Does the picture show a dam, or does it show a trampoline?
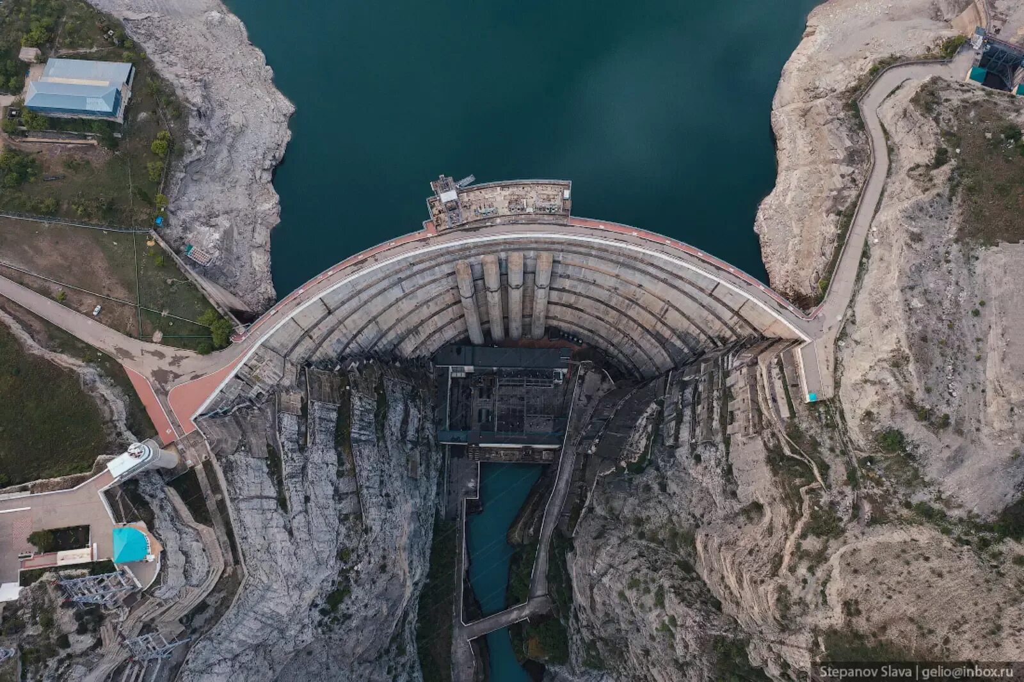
dam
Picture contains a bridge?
Yes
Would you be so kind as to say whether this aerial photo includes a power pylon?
Yes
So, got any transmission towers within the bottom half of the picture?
Yes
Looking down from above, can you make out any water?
Yes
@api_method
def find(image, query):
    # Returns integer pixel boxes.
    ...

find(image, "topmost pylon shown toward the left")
[53,571,132,610]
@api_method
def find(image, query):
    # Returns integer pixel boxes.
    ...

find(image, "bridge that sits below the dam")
[466,602,552,641]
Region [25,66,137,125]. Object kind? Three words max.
building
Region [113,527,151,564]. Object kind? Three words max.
building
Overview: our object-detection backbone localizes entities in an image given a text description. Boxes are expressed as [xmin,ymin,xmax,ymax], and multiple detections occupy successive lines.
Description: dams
[243,218,822,383]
